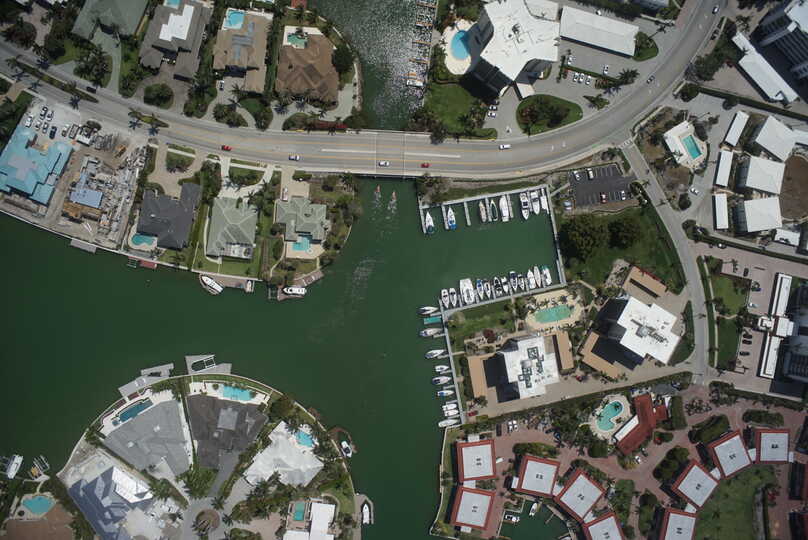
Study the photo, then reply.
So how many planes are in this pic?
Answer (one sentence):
The count of planes is 0.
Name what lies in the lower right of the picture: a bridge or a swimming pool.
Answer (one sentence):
Visible in the lower right of the picture is a swimming pool.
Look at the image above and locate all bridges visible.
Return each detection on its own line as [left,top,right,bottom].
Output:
[371,132,410,177]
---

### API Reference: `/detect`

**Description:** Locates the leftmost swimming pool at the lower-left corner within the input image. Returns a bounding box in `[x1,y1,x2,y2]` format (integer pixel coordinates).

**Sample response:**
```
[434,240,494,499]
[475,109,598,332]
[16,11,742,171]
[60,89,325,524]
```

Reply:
[21,496,56,517]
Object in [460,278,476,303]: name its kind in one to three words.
boat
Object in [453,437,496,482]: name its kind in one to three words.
house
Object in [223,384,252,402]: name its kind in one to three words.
swimming pool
